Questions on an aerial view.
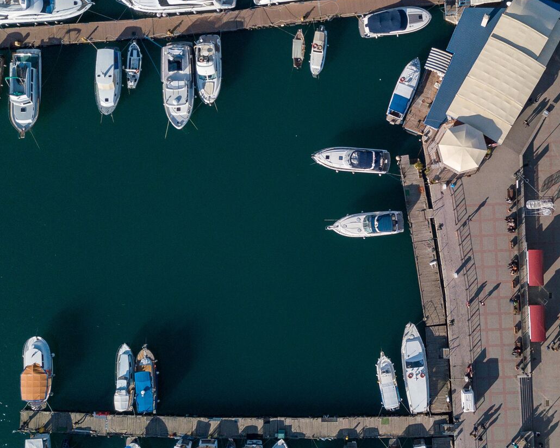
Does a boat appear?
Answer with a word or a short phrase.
Yes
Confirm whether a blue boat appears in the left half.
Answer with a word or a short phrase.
Yes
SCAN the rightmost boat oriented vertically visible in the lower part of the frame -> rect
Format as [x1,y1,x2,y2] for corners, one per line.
[401,318,431,417]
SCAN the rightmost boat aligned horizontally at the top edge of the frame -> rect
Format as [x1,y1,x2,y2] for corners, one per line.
[355,4,440,38]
